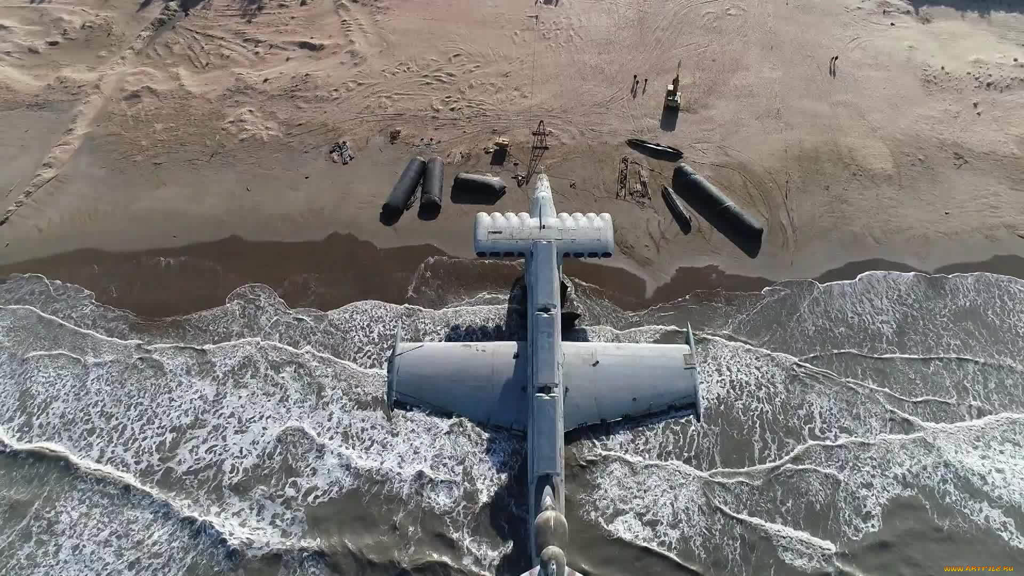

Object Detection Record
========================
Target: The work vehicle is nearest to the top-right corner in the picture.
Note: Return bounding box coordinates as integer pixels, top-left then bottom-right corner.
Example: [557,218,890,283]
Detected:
[664,58,684,111]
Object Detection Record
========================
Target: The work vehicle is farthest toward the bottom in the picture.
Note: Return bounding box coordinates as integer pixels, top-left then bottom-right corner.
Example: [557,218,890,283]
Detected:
[493,132,509,154]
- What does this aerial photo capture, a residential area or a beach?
beach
